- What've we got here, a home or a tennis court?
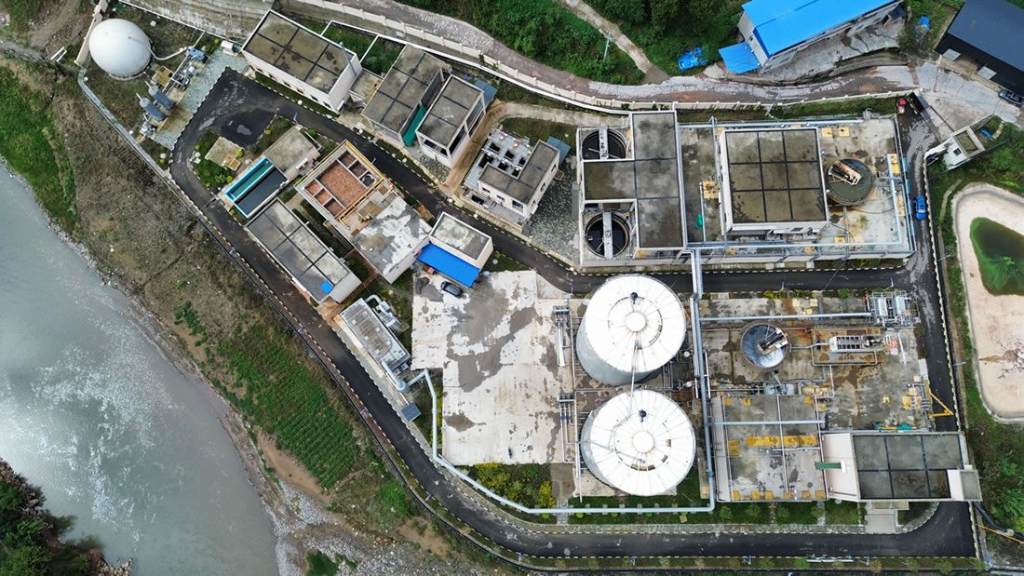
home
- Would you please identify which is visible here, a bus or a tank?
tank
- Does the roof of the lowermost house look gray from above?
Yes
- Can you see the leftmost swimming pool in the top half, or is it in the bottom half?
top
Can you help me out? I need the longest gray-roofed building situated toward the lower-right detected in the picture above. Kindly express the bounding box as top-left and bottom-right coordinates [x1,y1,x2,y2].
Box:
[816,430,982,506]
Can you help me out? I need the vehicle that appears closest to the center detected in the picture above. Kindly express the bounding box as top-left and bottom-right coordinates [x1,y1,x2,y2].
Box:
[439,280,465,299]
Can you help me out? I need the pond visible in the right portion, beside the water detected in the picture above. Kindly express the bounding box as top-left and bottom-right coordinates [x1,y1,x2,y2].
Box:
[951,181,1024,424]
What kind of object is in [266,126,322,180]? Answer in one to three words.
house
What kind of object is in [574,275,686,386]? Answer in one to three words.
storage tank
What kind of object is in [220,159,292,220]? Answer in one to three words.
swimming pool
